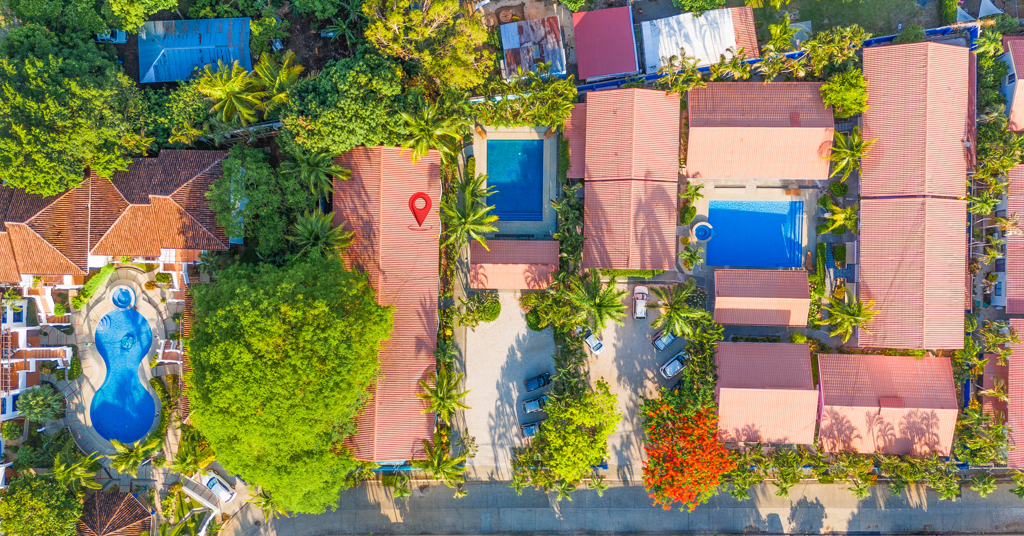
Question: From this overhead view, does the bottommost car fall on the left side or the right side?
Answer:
left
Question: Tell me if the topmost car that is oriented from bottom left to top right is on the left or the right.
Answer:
right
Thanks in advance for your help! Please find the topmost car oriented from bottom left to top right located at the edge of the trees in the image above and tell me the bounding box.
[650,325,685,354]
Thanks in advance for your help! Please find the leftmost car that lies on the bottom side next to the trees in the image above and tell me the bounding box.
[204,470,241,504]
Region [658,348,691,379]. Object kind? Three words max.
car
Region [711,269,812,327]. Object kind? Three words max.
shed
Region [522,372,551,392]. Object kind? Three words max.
car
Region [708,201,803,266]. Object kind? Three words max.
swimming pool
